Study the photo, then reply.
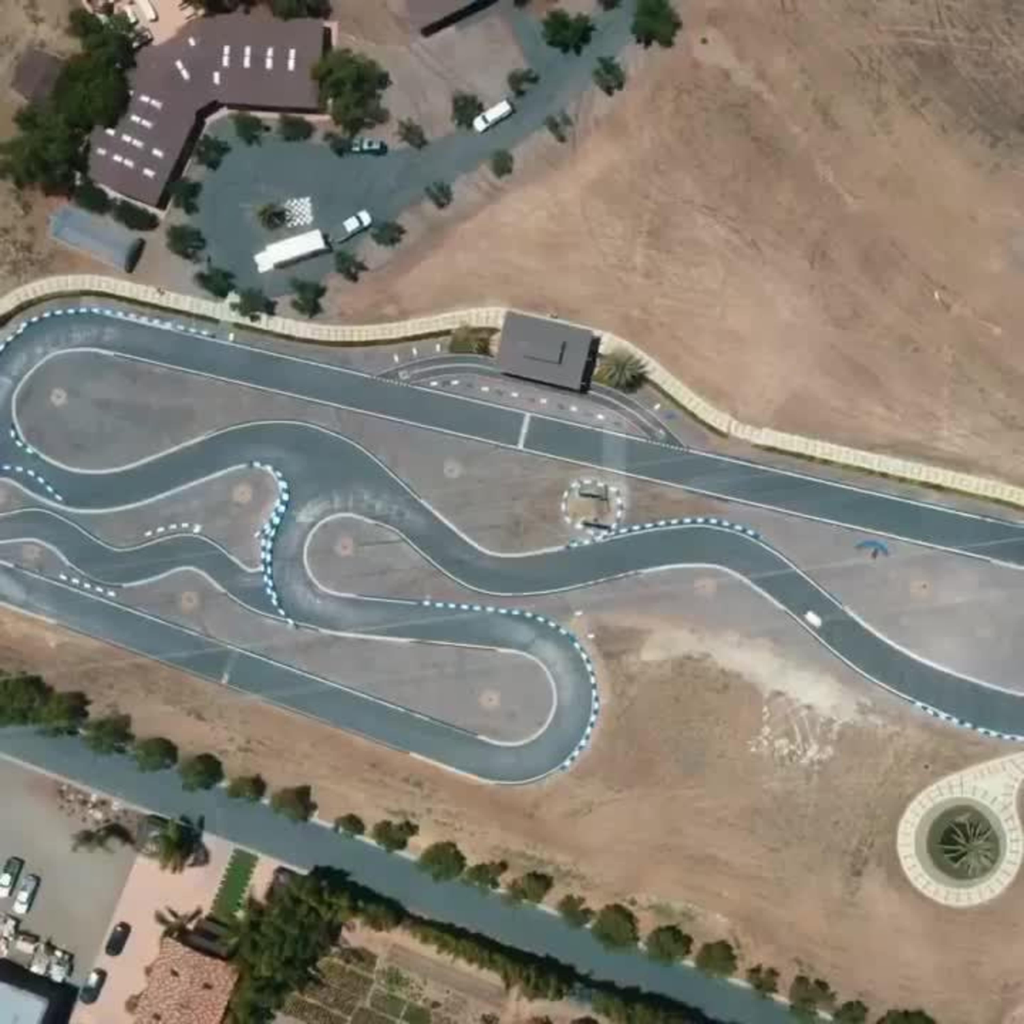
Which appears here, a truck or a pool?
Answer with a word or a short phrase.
truck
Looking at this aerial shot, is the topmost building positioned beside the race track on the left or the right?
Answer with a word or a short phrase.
left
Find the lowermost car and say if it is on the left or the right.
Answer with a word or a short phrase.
left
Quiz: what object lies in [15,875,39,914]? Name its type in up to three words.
truck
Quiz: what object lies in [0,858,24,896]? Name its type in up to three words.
truck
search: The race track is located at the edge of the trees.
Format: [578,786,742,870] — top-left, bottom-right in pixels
[0,312,1024,783]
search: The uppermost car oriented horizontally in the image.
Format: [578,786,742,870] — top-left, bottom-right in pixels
[352,138,386,155]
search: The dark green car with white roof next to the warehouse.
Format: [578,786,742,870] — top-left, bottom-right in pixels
[82,967,107,1003]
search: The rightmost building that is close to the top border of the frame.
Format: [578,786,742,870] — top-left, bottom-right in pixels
[407,0,488,40]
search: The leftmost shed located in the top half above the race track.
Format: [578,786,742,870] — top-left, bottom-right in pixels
[12,42,68,105]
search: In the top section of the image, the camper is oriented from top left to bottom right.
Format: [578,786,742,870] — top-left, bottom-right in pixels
[134,0,157,25]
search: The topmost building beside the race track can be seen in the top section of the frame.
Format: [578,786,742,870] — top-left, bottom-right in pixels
[87,13,324,213]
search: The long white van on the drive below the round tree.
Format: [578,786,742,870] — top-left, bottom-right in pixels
[470,98,516,134]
